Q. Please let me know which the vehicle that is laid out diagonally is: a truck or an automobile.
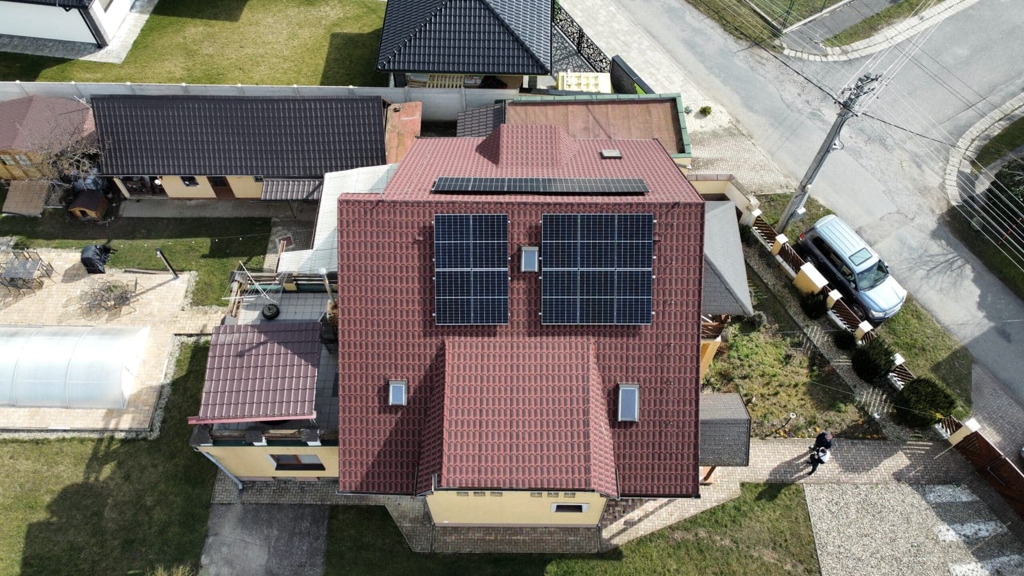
automobile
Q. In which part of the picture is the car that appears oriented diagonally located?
right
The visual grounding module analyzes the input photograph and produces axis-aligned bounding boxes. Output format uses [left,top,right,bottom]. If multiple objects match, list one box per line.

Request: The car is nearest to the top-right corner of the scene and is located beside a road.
[803,216,908,321]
